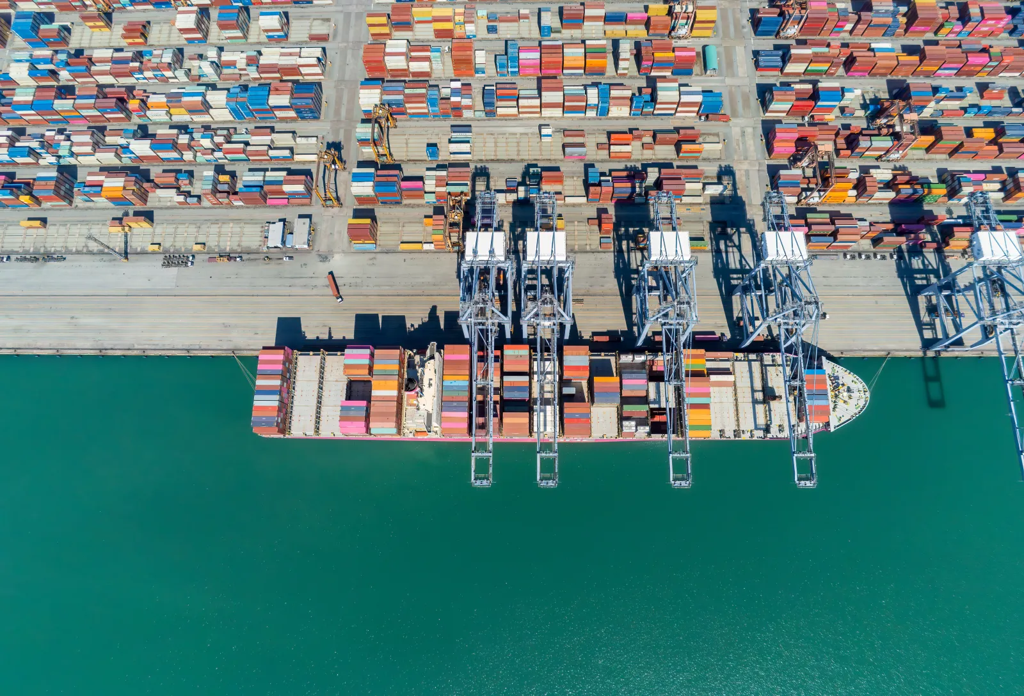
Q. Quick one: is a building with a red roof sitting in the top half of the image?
No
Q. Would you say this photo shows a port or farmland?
port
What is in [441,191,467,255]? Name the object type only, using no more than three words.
container crane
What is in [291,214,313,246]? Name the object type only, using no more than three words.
building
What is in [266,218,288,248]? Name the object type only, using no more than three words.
building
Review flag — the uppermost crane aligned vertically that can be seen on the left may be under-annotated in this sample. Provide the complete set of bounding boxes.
[371,101,399,164]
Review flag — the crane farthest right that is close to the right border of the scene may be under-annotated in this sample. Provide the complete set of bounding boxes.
[912,184,1024,472]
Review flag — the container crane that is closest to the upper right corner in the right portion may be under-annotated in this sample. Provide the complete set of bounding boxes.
[883,97,932,162]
